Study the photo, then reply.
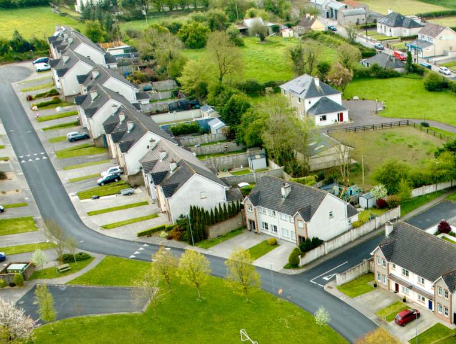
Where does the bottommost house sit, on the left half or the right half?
right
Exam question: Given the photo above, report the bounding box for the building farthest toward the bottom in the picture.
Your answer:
[370,211,456,319]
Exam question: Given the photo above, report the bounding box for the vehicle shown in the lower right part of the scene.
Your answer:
[393,308,423,324]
